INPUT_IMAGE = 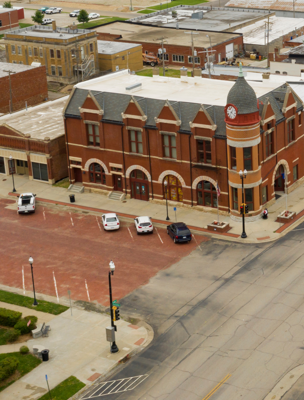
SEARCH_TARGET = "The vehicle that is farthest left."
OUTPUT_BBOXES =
[14,193,38,213]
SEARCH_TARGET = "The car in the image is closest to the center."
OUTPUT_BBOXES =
[135,216,153,236]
